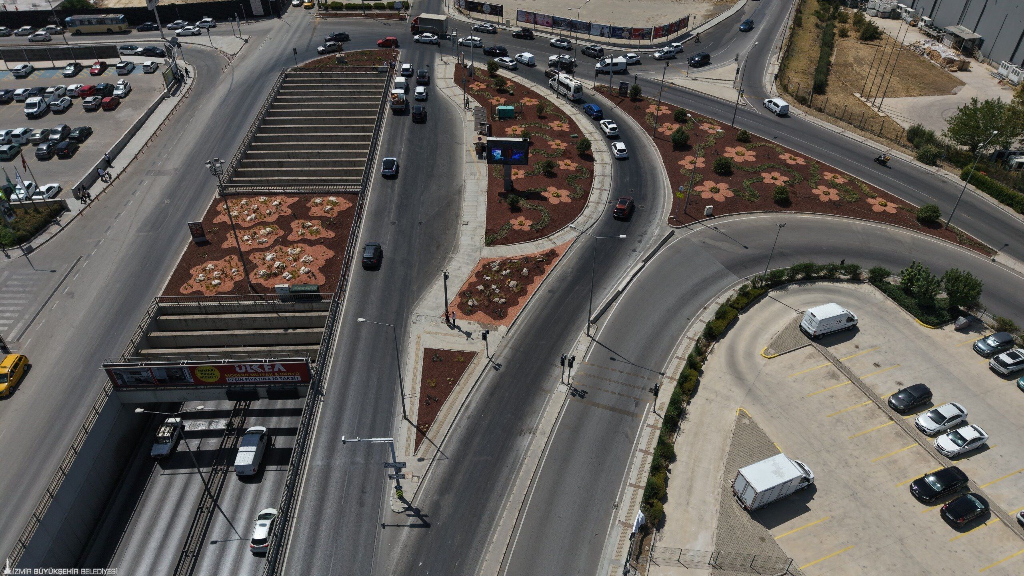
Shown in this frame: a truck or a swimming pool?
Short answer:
truck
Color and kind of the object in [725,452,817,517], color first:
white truck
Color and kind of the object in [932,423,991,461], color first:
white car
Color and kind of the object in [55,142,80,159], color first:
black car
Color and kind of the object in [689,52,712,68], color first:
black car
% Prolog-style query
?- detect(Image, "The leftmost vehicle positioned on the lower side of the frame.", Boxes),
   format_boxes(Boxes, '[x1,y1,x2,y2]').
[0,351,34,397]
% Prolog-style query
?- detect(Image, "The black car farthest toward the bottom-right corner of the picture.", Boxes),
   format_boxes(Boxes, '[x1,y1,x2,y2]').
[935,491,993,529]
